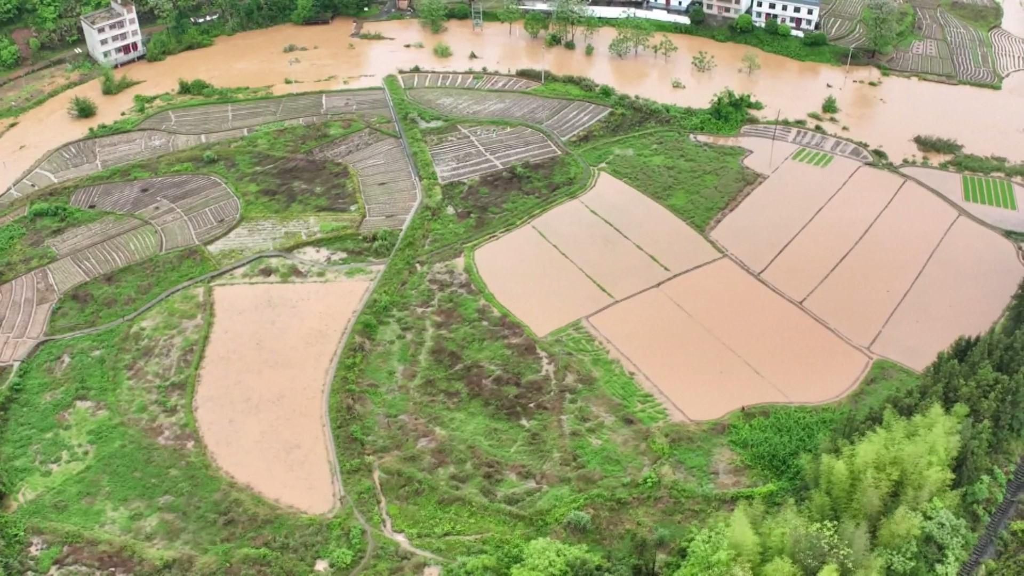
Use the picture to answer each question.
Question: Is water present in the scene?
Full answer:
Yes, some water is visible.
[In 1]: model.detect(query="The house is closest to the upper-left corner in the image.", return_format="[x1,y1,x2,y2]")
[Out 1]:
[78,0,147,65]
